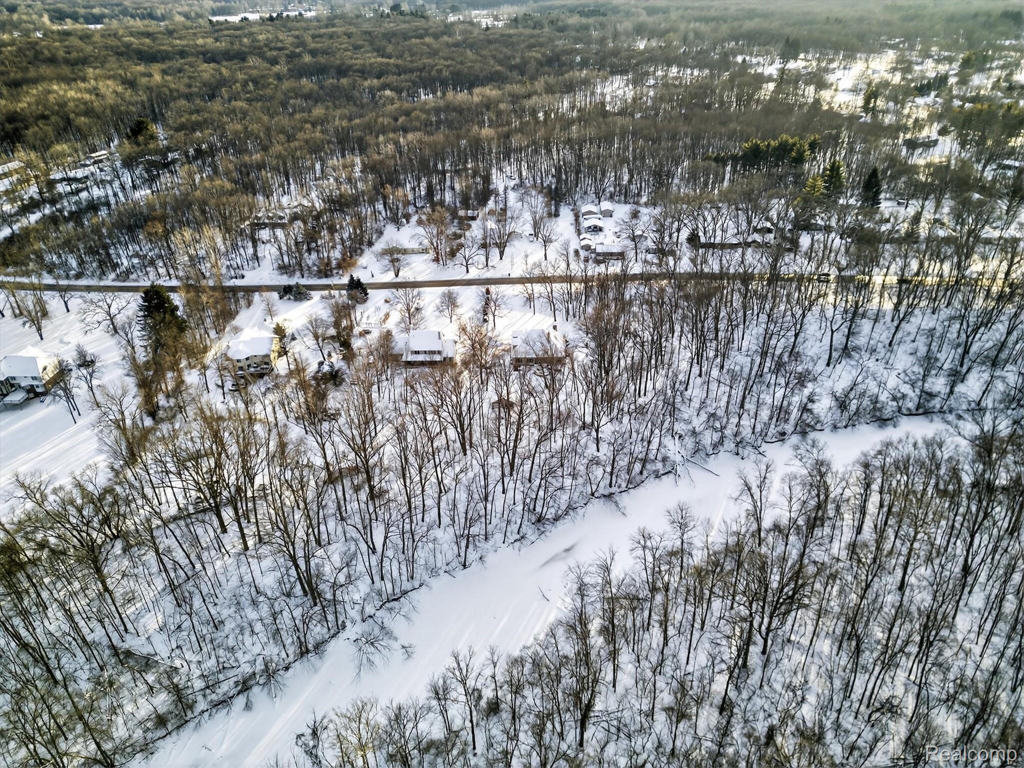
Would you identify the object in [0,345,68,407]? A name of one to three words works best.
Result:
house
